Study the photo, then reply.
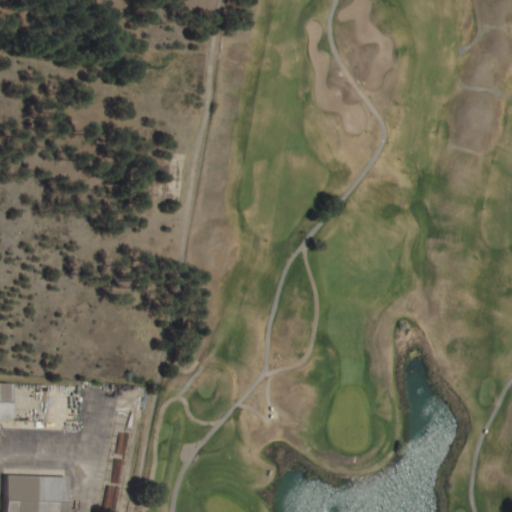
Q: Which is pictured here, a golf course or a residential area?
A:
golf course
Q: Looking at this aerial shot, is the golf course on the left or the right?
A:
right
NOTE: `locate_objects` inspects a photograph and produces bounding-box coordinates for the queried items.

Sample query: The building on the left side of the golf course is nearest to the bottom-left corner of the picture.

[2,468,72,512]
